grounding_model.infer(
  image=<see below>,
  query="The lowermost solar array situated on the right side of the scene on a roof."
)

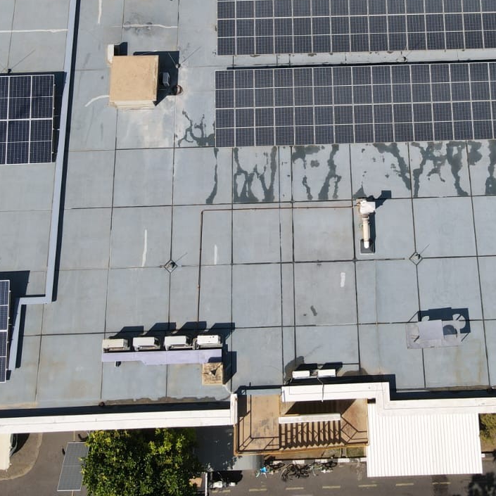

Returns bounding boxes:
[214,63,496,146]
